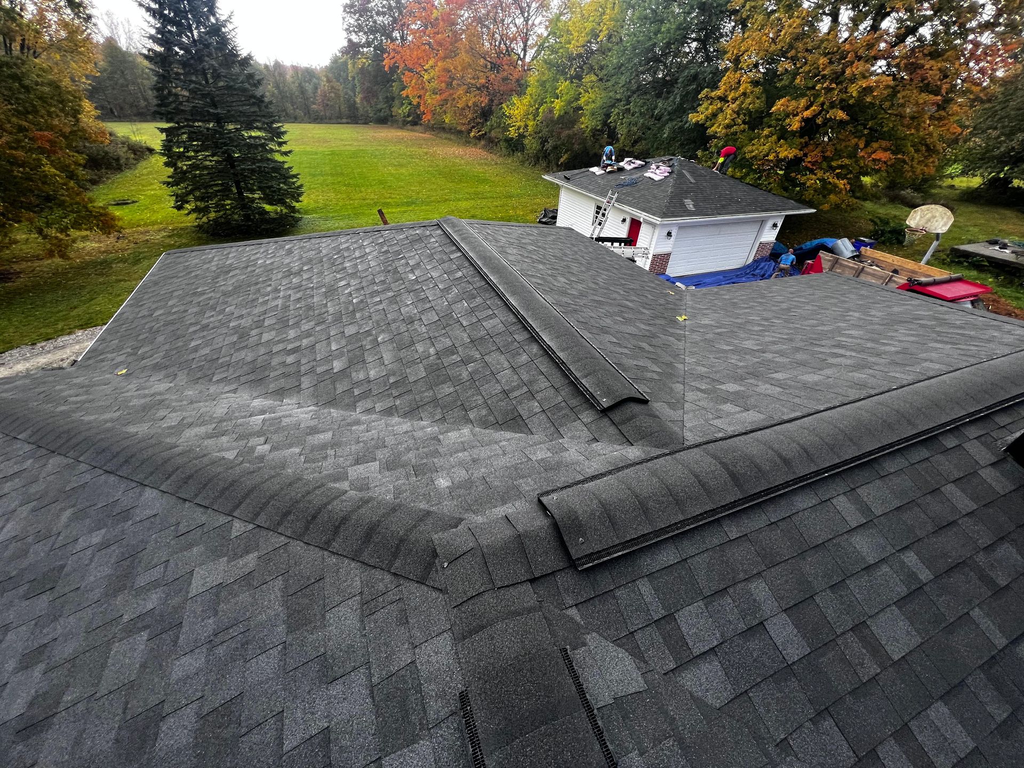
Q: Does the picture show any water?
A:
No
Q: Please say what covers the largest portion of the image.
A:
buildings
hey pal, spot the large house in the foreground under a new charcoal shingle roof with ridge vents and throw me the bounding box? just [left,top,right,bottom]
[0,219,1024,768]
